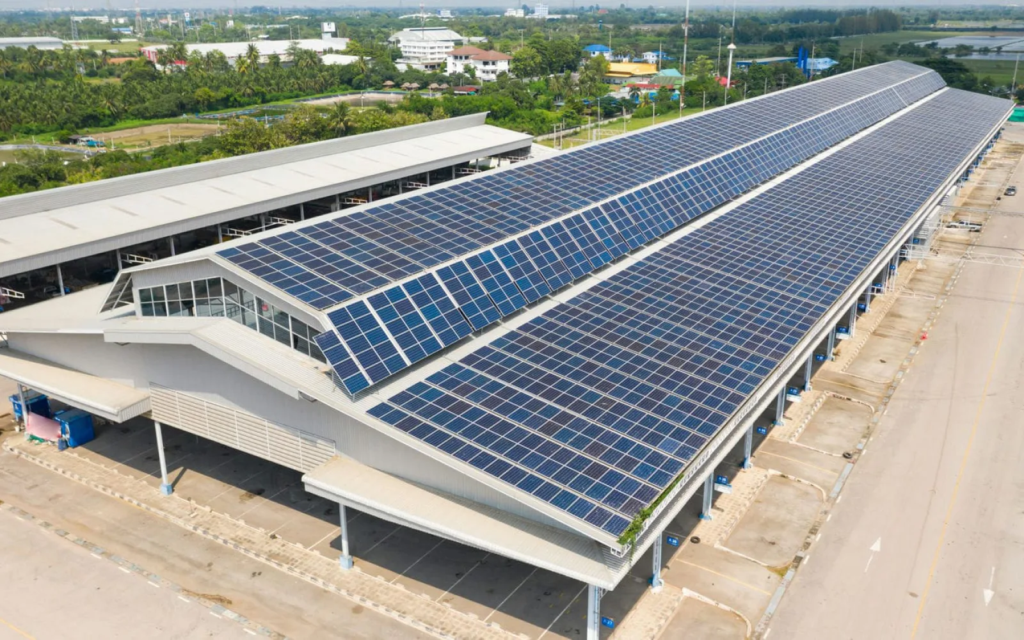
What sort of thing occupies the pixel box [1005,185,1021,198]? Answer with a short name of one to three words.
vehicle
